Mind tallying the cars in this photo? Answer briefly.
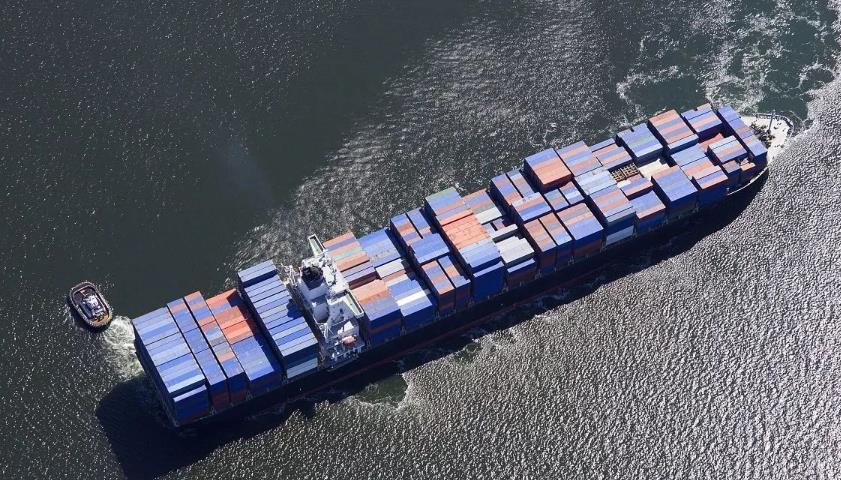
0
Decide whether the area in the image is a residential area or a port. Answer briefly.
port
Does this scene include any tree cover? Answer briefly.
No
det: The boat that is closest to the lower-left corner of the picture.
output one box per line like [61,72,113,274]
[67,284,117,335]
